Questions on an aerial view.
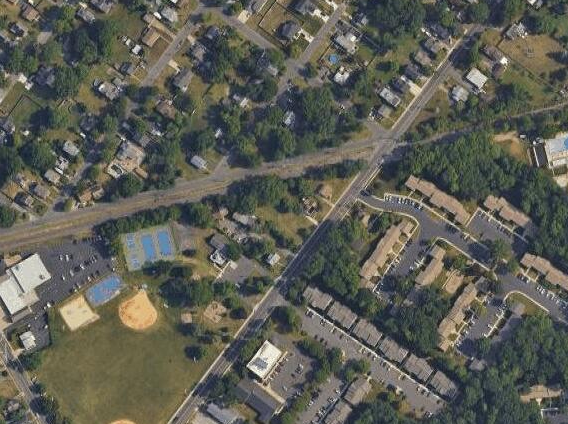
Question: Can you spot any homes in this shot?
Yes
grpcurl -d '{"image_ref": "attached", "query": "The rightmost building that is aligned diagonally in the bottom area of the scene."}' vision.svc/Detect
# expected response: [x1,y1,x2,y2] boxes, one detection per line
[523,253,568,292]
